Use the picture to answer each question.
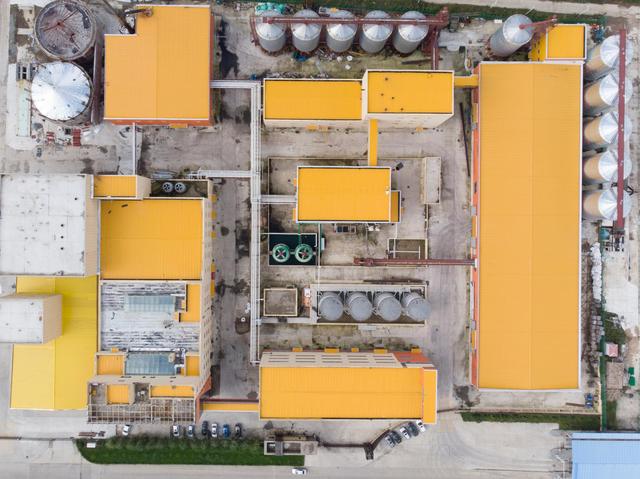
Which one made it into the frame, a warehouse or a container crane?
warehouse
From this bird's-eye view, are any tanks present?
Yes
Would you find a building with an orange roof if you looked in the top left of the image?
Yes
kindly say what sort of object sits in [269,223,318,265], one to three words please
cooling tower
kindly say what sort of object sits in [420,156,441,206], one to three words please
building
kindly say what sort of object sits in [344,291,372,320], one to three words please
storage tank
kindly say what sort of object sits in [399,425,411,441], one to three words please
vehicle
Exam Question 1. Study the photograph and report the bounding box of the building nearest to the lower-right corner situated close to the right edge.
[570,433,640,479]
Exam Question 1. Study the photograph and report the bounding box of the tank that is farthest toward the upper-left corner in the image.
[34,0,98,61]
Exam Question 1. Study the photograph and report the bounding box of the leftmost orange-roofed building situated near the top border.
[104,5,216,127]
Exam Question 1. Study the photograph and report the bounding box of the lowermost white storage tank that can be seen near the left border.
[31,61,94,126]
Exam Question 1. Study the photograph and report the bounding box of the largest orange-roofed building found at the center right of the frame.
[471,59,586,394]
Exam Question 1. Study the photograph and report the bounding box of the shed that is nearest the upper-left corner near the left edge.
[19,79,34,137]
